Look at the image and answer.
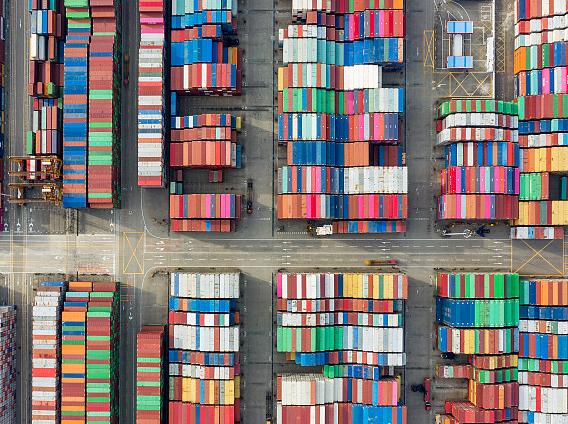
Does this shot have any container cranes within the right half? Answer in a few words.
No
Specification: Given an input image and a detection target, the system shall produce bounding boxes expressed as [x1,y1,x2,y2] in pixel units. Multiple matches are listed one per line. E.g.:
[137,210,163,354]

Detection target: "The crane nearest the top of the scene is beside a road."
[2,155,64,181]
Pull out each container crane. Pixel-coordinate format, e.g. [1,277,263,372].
[2,183,64,207]
[2,155,64,181]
